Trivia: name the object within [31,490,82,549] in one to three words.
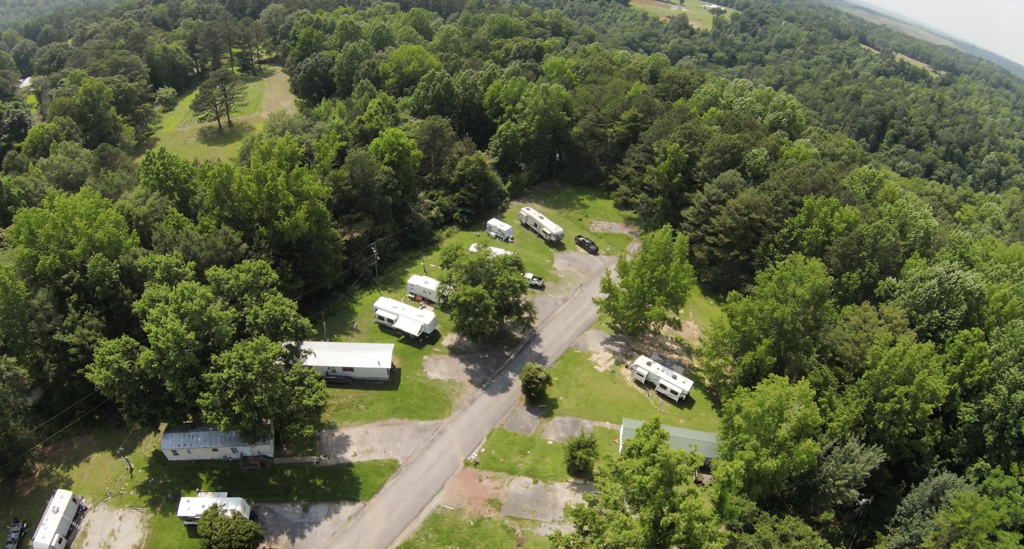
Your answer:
trailer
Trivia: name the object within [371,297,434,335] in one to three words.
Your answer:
trailer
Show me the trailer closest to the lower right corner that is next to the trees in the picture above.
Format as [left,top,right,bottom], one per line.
[624,354,694,408]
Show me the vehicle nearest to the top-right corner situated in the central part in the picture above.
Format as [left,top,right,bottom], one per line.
[574,235,598,255]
